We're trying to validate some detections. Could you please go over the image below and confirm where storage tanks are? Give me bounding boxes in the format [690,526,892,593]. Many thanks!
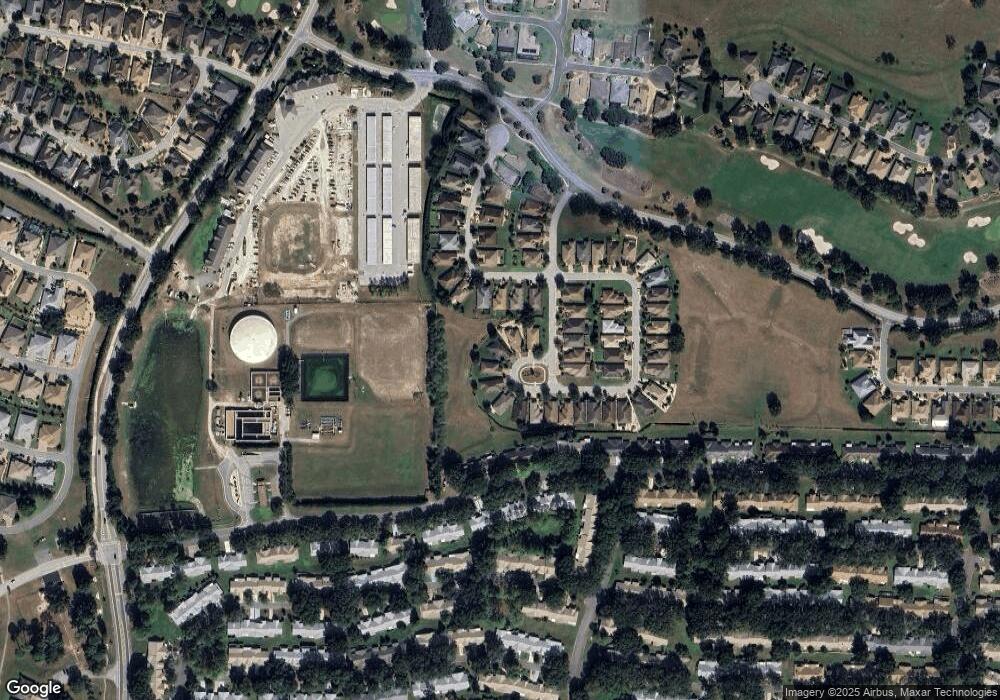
[229,315,276,363]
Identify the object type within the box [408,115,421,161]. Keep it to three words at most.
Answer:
building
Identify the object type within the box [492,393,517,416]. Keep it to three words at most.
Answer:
house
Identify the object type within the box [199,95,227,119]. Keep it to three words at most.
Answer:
house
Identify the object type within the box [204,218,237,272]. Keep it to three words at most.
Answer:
building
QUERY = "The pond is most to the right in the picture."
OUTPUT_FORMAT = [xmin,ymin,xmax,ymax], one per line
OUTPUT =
[301,351,350,401]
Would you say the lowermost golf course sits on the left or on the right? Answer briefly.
right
